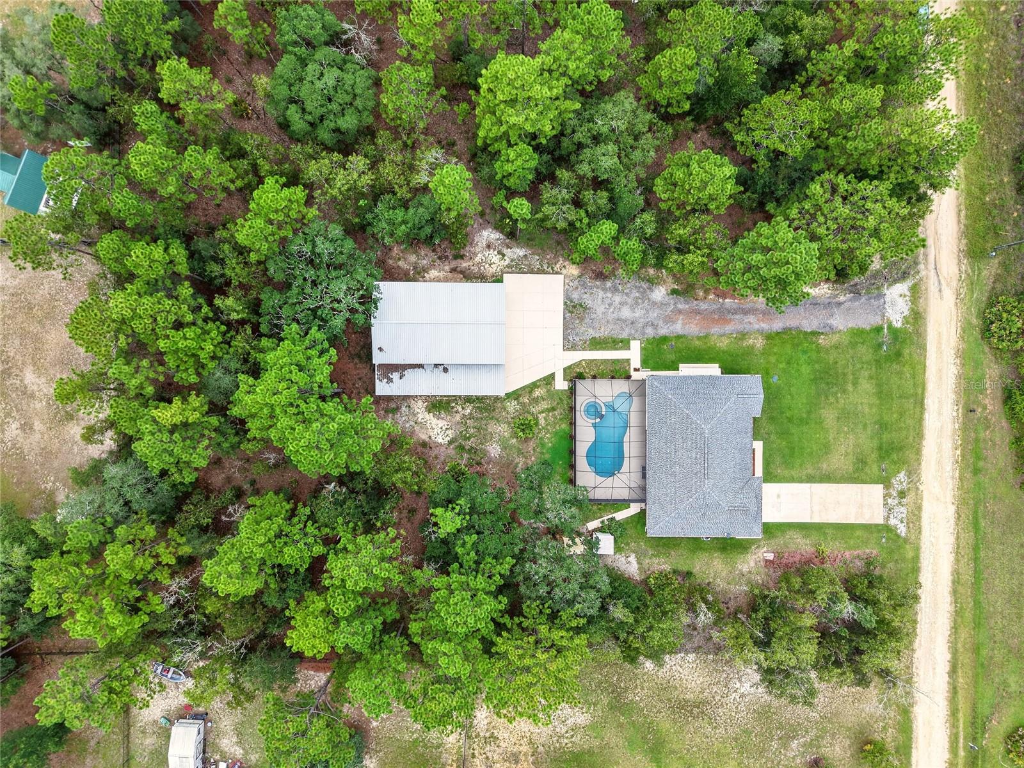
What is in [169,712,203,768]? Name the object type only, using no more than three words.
trailer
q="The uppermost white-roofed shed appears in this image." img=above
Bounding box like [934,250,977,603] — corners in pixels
[371,281,506,395]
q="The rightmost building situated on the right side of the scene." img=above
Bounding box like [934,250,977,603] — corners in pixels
[645,375,766,538]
